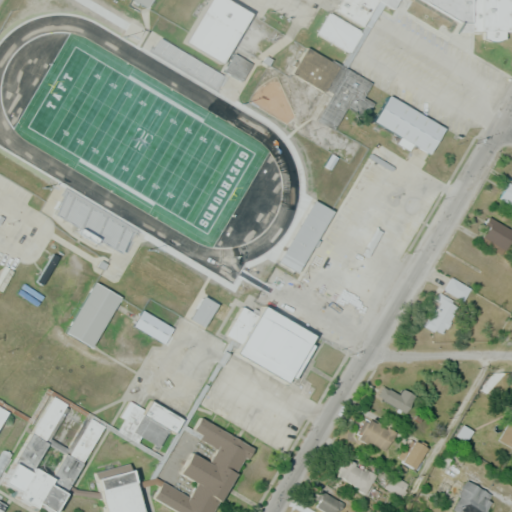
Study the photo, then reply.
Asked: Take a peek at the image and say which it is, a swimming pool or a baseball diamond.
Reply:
baseball diamond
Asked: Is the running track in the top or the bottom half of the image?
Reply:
top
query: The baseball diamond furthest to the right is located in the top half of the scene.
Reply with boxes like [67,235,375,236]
[251,78,298,124]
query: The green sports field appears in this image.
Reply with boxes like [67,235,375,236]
[14,34,270,247]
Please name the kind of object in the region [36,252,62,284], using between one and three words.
building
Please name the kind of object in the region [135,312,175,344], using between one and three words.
building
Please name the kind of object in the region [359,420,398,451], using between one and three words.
house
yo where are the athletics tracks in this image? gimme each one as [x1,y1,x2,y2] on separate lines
[0,14,307,269]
